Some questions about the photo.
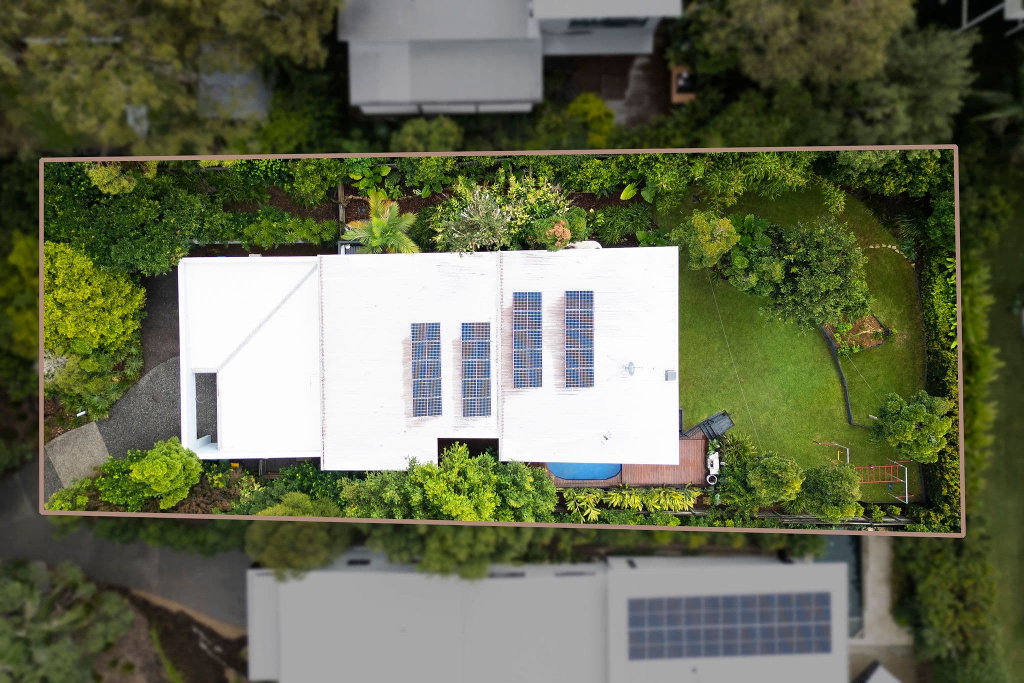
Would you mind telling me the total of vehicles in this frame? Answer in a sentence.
The picture shows no vehicles.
